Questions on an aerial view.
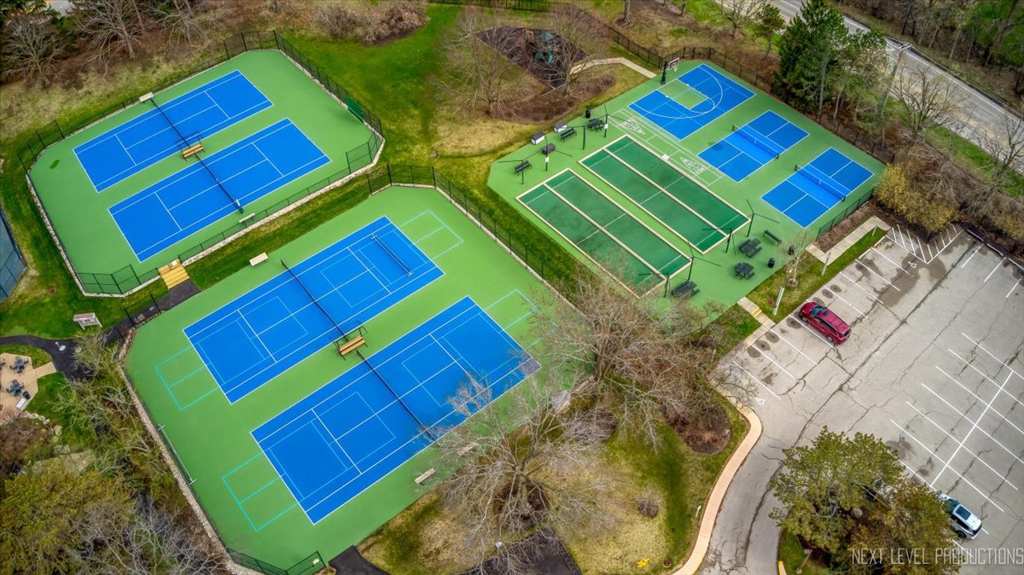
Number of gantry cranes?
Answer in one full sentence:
There are no gantry cranes in the image.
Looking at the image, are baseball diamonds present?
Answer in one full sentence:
No, there is no baseball diamond in the image.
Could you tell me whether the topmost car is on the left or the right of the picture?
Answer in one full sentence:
It is on the right.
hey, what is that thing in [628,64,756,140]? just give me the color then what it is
blue basketball court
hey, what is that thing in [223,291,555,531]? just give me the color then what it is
blue tennis court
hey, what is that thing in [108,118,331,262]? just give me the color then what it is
blue tennis court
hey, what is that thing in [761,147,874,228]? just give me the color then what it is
blue sports court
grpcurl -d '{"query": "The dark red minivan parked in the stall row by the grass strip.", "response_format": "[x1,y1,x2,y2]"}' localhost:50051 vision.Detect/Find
[798,305,855,348]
